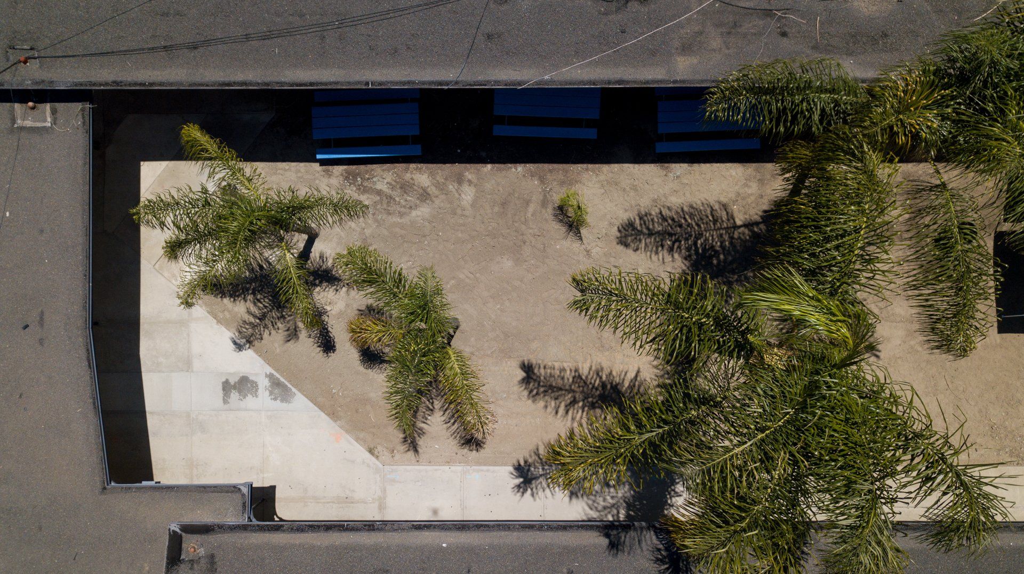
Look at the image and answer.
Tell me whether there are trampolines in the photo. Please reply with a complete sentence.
No, no trampoline can be seen from above.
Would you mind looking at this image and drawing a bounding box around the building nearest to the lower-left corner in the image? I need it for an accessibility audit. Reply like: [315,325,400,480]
[0,89,253,574]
